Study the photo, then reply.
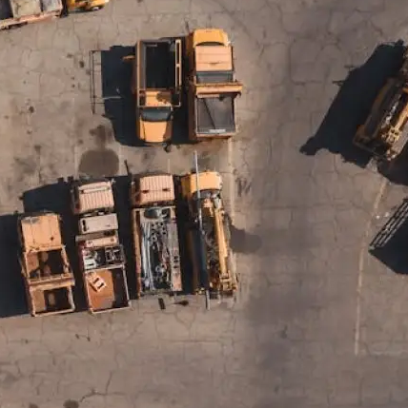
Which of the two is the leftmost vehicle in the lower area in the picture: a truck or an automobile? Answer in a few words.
truck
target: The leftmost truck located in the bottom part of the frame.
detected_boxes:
[14,213,77,315]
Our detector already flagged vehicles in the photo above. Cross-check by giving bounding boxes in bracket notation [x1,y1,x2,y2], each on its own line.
[185,29,241,139]
[351,33,408,163]
[127,175,181,295]
[68,179,130,312]
[128,39,184,145]
[14,213,77,315]
[179,172,244,298]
